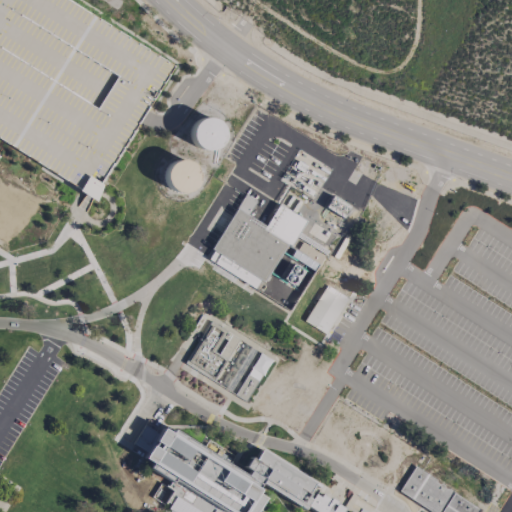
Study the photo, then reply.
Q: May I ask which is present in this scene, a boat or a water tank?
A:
water tank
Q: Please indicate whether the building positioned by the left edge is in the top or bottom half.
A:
top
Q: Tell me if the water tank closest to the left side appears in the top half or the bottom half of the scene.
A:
top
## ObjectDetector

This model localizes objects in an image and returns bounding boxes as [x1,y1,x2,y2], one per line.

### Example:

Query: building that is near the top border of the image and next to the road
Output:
[0,0,176,202]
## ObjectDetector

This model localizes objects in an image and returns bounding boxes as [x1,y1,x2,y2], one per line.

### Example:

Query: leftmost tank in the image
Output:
[162,158,204,198]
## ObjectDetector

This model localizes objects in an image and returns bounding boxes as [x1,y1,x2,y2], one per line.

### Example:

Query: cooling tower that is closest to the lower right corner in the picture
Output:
[285,264,308,288]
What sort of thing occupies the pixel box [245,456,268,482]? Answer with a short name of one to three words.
building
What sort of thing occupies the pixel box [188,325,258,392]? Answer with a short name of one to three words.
building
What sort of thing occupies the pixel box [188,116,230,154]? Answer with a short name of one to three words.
water tank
